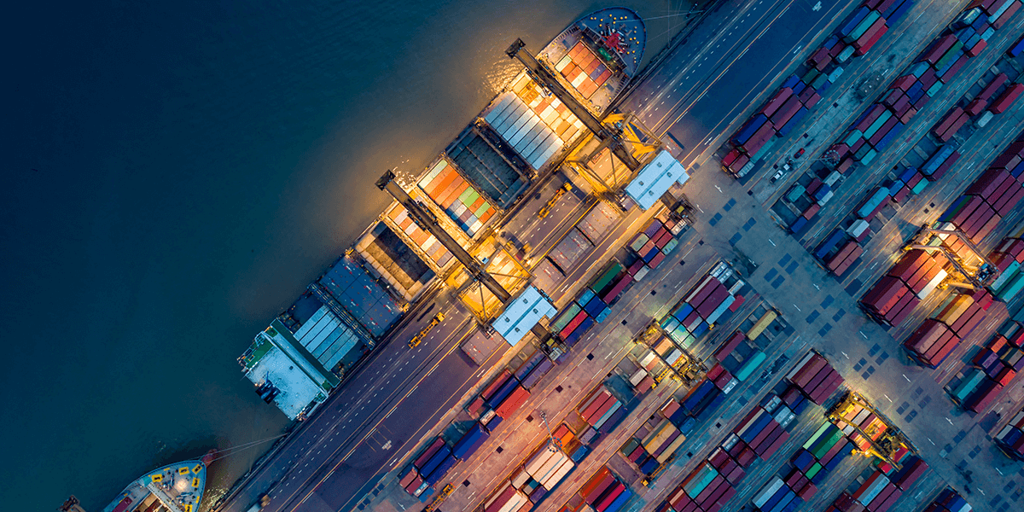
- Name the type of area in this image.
port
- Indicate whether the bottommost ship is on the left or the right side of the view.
left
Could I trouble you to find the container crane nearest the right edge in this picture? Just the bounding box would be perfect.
[907,223,1001,290]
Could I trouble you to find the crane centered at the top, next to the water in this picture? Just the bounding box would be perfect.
[505,33,701,226]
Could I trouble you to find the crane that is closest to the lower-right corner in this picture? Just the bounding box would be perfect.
[828,392,917,471]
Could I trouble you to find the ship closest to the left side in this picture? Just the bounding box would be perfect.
[98,448,218,512]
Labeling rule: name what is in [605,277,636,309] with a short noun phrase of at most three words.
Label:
shipping container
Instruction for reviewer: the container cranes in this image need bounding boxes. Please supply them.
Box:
[373,169,569,361]
[907,223,1001,290]
[633,315,711,388]
[505,33,701,226]
[828,392,917,471]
